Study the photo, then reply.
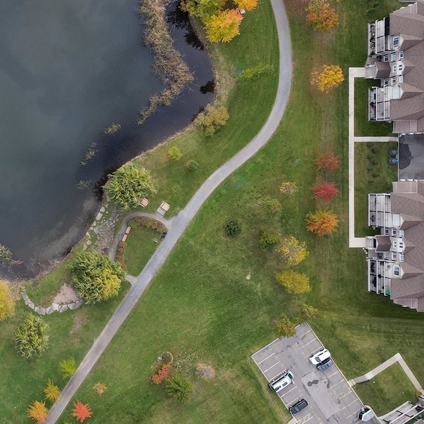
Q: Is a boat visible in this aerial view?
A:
No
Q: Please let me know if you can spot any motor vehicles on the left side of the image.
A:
No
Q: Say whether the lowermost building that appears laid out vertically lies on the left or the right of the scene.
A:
right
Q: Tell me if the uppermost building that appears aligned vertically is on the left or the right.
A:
right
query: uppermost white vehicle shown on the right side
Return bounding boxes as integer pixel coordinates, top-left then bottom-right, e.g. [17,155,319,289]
[308,348,331,365]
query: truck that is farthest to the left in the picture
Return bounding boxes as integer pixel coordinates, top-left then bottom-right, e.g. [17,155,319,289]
[267,371,295,393]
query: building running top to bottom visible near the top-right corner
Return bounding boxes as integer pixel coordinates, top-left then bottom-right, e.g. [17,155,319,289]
[361,0,424,132]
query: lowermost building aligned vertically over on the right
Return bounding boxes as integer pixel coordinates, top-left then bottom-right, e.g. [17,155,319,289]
[361,180,424,312]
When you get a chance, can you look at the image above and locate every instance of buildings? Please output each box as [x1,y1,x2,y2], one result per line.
[380,387,424,424]
[361,180,424,312]
[361,0,424,132]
